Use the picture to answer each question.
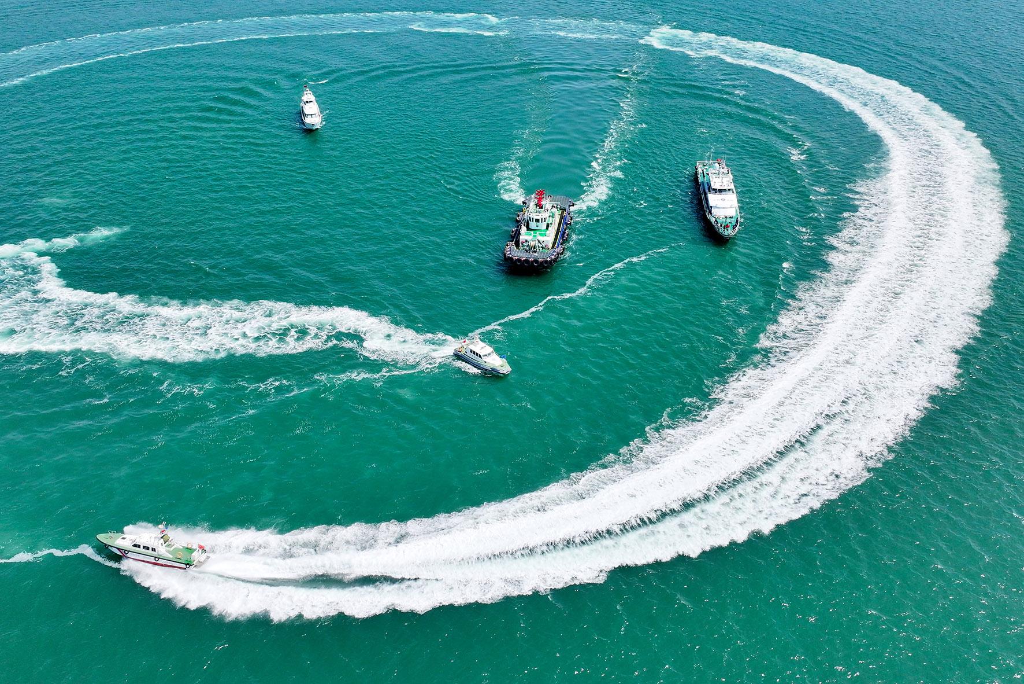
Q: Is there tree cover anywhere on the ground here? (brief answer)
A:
No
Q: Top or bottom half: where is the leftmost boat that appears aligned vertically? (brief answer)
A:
top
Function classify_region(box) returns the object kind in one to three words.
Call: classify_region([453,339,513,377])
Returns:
boat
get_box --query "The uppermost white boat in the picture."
[298,83,322,129]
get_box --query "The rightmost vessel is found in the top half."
[692,153,739,252]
